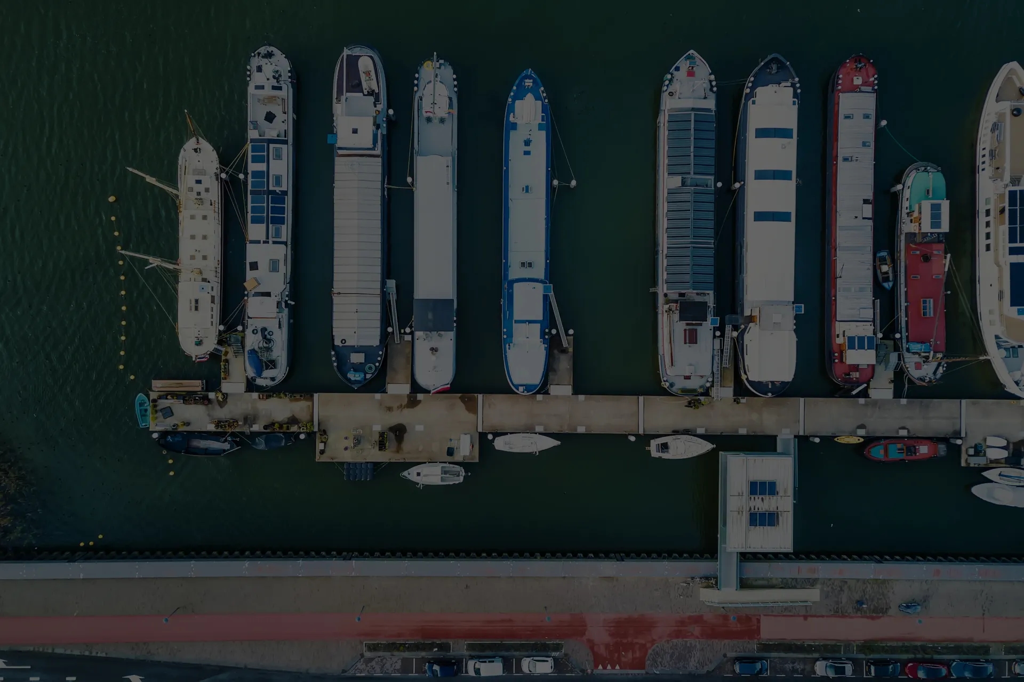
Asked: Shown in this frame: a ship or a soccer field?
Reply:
ship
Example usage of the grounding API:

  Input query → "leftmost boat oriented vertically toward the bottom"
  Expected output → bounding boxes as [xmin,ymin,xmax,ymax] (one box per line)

[136,393,150,427]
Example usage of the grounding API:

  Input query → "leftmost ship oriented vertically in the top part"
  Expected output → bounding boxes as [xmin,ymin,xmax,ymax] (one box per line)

[118,109,239,360]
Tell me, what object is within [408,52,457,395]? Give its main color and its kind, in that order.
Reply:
gray ship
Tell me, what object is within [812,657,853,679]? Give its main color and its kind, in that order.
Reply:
black car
